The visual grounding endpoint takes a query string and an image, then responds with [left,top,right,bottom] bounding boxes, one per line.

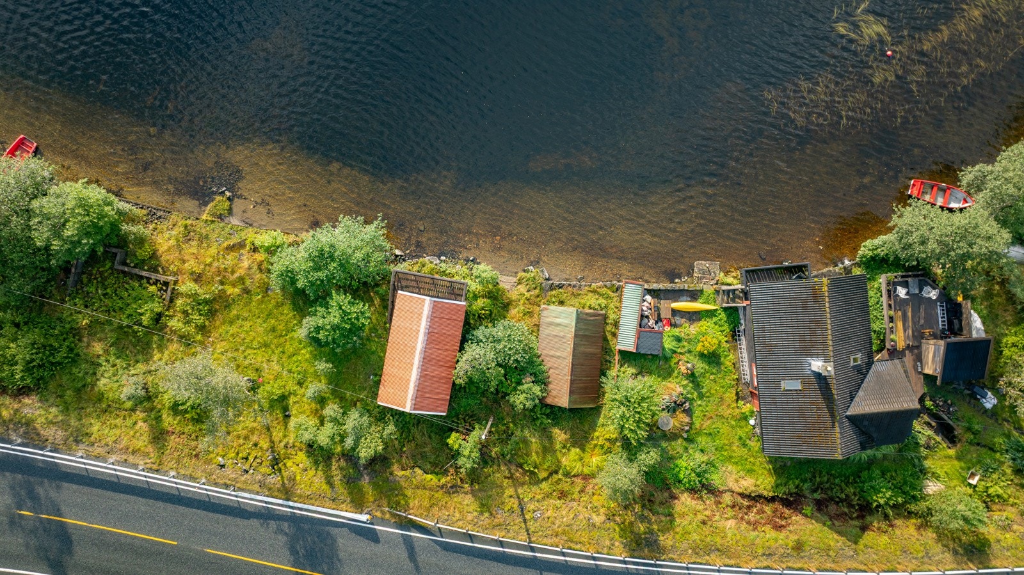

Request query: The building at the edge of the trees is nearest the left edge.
[376,268,468,417]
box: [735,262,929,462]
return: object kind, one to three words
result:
house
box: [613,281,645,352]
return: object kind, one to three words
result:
shed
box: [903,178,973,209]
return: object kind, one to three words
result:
boat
